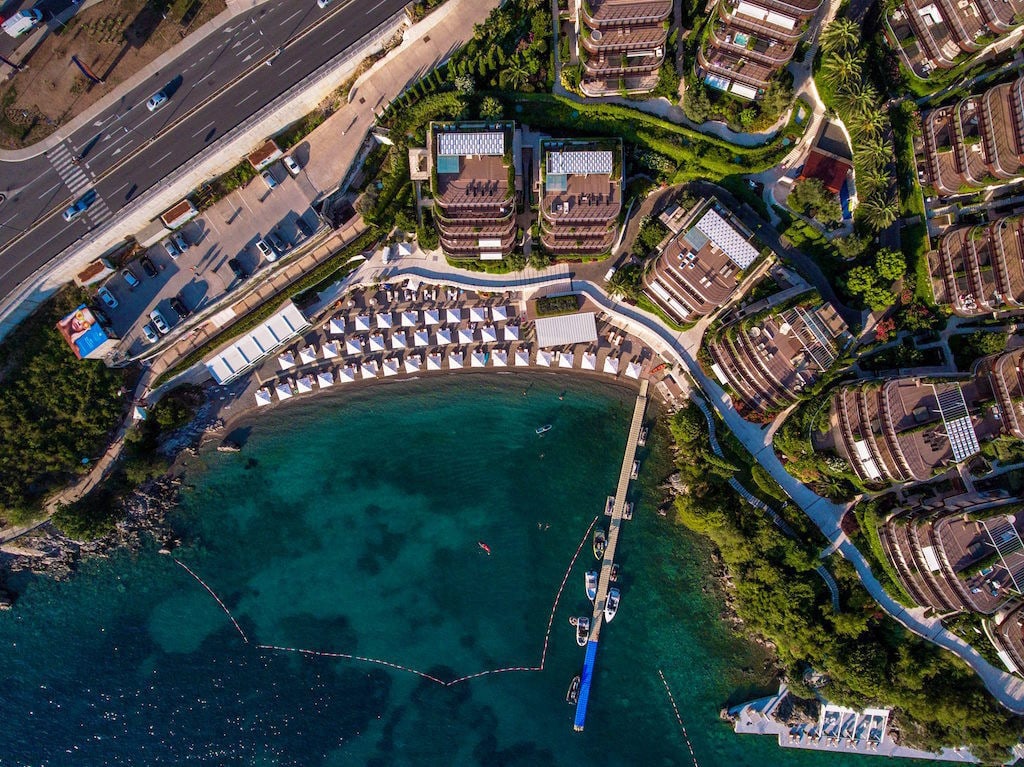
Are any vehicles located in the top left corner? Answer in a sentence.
Yes, there is a vehicle in the top left corner.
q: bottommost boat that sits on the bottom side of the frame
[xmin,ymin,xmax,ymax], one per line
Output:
[566,676,581,706]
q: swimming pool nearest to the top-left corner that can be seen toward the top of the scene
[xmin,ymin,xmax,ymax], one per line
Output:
[439,157,458,172]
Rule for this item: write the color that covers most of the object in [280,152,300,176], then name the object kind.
white car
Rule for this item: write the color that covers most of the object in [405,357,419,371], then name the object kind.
white umbrella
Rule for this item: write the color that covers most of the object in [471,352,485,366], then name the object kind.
white umbrella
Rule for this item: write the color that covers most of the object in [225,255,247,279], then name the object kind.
black car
